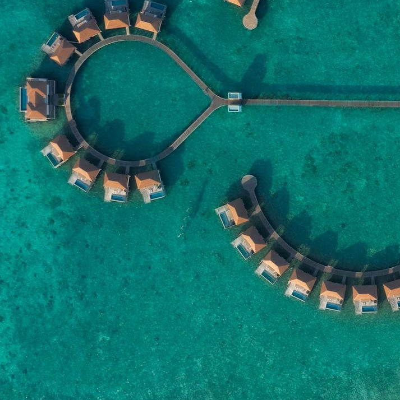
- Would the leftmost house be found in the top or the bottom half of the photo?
top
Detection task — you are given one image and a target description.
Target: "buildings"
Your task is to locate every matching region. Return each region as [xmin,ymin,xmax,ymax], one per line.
[231,227,267,261]
[70,8,103,43]
[321,281,347,311]
[42,31,79,66]
[135,0,169,33]
[104,0,133,30]
[285,267,318,302]
[215,198,250,229]
[19,79,58,121]
[353,284,379,316]
[255,250,290,286]
[42,134,78,169]
[69,158,104,194]
[135,170,168,205]
[225,93,240,112]
[104,173,133,204]
[384,279,400,312]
